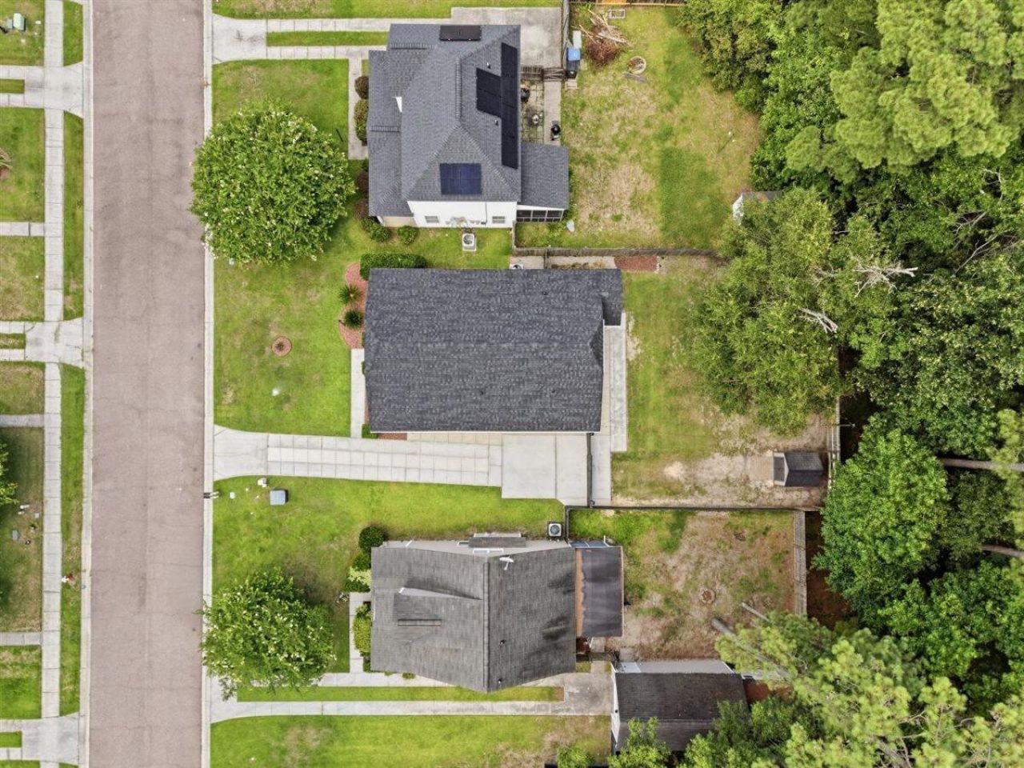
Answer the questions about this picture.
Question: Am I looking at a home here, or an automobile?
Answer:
home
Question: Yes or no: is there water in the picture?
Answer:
No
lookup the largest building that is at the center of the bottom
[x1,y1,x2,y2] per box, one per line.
[372,534,624,692]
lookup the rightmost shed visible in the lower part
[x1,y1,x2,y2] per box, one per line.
[774,451,827,485]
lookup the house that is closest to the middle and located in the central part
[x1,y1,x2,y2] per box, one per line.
[364,269,624,434]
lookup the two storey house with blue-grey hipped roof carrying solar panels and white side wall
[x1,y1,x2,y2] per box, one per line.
[365,22,568,226]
